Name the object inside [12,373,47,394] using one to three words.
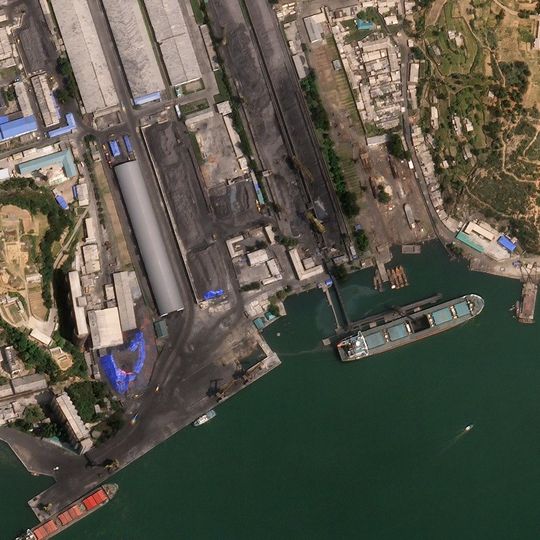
house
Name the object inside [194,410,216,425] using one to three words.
boat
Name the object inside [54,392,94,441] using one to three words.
building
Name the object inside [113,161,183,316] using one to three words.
shed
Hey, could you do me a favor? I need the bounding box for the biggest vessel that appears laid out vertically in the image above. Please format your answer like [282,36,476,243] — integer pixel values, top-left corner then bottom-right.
[520,279,536,323]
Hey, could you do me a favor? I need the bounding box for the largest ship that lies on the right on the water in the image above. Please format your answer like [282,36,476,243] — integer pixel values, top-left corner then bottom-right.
[335,296,486,361]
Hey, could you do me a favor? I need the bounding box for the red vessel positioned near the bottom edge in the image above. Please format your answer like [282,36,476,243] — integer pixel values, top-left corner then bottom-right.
[17,476,120,540]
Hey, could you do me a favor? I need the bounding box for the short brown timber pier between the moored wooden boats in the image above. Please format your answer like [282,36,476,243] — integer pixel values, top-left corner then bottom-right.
[370,246,392,282]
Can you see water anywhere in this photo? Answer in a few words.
Yes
